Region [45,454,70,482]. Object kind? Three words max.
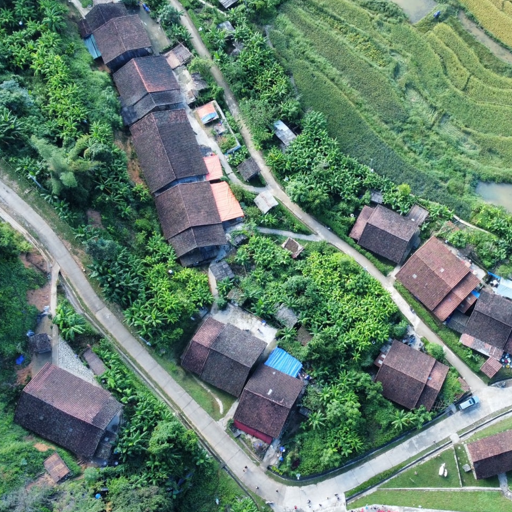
shed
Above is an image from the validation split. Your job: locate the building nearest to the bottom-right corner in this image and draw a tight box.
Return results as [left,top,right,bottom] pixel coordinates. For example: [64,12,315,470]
[466,430,512,481]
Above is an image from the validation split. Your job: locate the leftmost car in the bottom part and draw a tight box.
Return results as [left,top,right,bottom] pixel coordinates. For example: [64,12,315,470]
[457,394,480,413]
